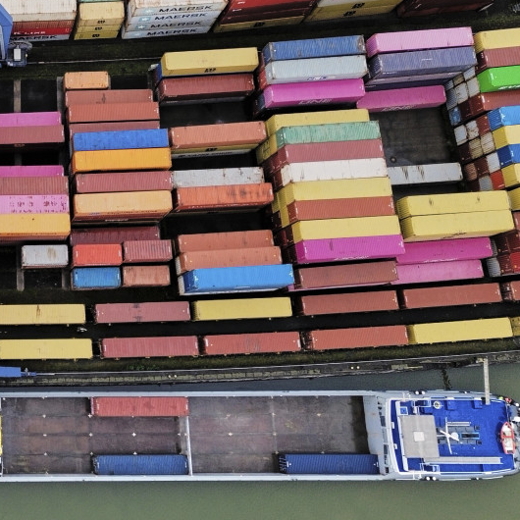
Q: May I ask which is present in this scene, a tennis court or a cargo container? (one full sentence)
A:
I can see a cargo container in this picture.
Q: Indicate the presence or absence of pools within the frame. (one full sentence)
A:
No, the photo shows no pool.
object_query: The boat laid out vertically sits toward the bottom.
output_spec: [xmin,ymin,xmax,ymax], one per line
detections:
[500,420,519,456]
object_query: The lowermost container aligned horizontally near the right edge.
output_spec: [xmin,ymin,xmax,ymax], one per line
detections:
[407,318,511,345]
